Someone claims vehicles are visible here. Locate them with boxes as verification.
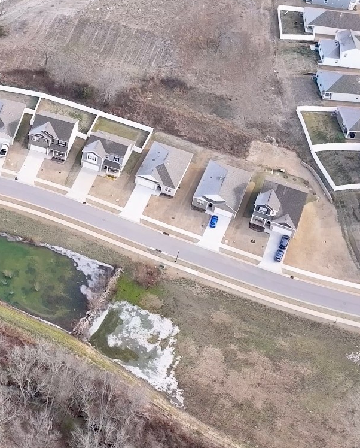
[273,247,286,264]
[208,212,219,228]
[0,141,10,157]
[279,232,292,249]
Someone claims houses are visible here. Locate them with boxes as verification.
[318,36,360,68]
[299,7,360,35]
[81,129,136,178]
[29,113,79,158]
[315,69,360,102]
[190,158,252,219]
[249,176,310,238]
[0,99,31,146]
[135,140,194,198]
[336,107,360,139]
